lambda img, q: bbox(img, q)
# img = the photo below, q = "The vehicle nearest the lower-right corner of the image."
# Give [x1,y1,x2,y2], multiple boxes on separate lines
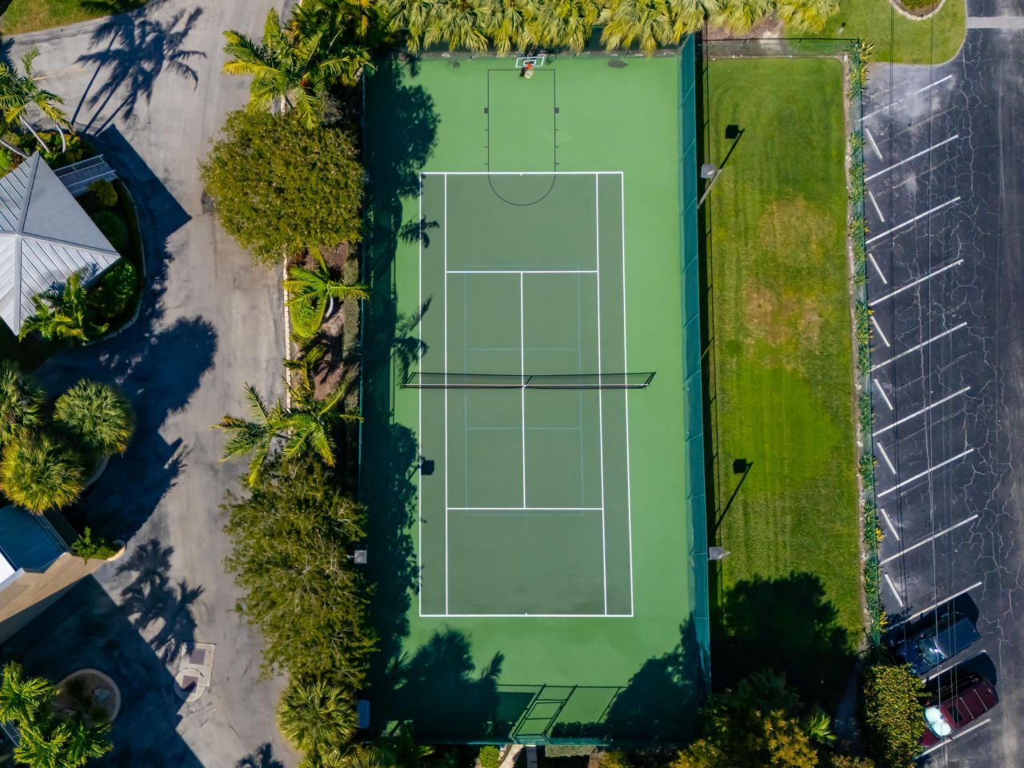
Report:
[918,674,1003,749]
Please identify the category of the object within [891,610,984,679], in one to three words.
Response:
car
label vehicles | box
[891,610,984,679]
[918,674,1003,749]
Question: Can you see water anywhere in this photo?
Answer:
No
